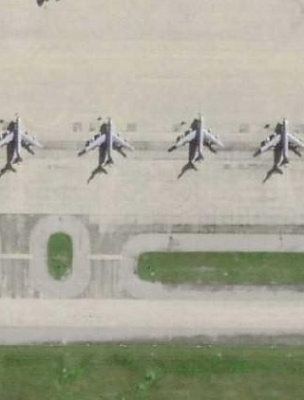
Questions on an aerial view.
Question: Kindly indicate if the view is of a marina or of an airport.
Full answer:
This image shows an airport.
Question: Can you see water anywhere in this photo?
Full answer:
No, the picture contains no water.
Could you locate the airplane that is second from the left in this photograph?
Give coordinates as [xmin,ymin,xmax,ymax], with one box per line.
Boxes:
[87,119,134,169]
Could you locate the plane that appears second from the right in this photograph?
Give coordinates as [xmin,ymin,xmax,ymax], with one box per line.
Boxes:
[178,116,226,165]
